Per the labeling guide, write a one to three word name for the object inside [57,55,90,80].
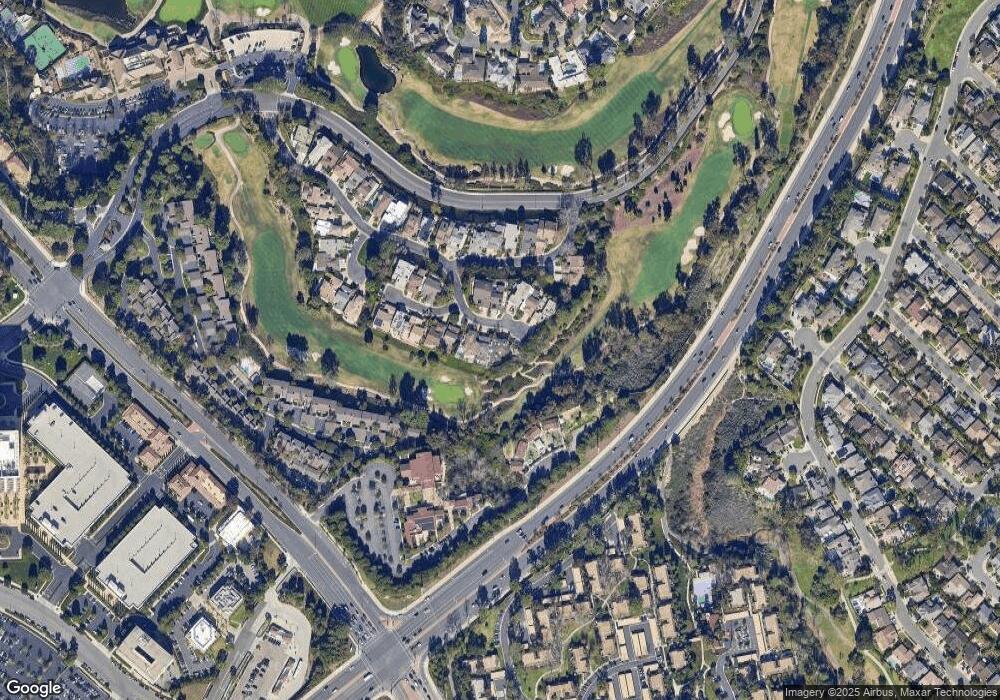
sports court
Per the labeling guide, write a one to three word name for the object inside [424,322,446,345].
house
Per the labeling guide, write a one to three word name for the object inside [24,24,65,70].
sports court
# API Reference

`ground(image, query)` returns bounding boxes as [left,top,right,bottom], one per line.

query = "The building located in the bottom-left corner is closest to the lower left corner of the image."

[116,626,175,684]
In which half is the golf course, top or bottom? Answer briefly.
top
